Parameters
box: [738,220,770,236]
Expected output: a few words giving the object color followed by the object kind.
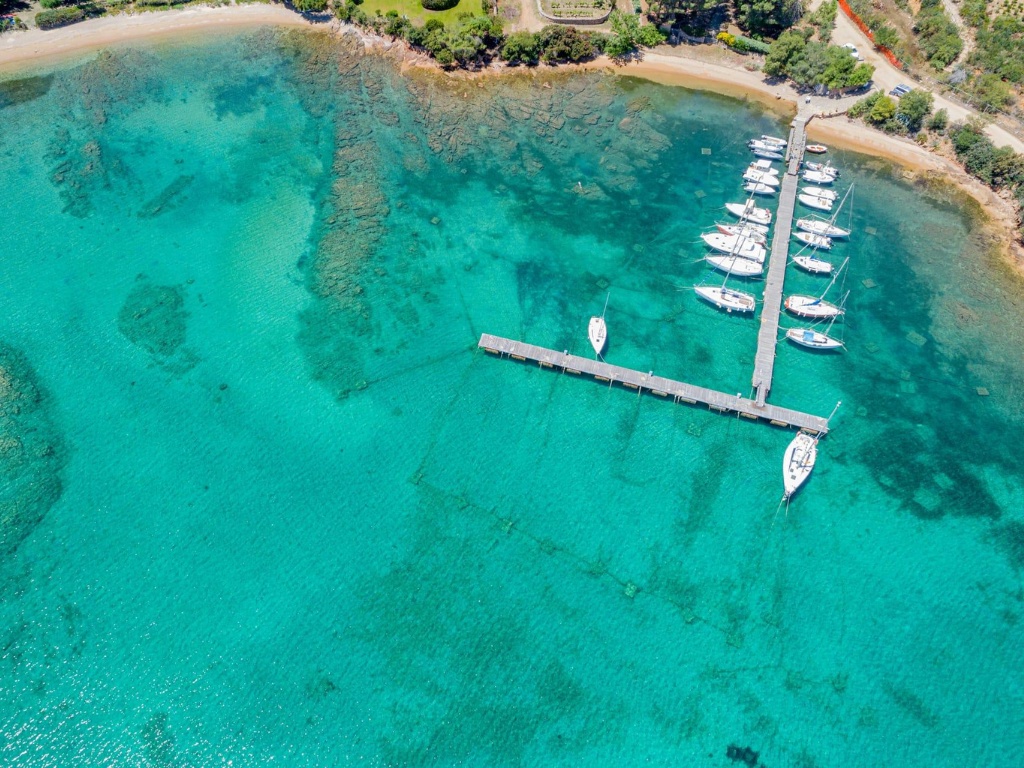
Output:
white boat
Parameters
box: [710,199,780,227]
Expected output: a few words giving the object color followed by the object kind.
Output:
white boat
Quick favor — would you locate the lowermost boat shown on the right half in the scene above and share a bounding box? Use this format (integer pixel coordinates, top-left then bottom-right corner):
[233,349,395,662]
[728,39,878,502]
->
[775,401,841,519]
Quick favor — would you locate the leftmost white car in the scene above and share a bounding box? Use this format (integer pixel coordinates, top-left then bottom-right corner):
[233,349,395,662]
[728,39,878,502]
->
[841,42,864,59]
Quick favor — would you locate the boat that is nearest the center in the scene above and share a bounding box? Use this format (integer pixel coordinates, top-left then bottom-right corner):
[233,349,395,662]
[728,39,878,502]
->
[587,291,610,364]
